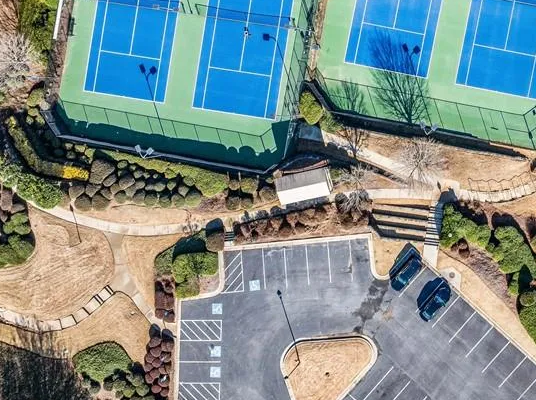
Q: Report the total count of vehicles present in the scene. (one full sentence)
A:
My tally gives 2 vehicles in this view.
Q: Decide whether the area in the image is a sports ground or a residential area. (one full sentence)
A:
This image shows a sports ground.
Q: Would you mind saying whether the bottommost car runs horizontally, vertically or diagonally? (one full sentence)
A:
The bottommost car runs diagonally in the image.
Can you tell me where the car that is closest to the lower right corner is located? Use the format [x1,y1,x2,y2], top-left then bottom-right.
[418,283,453,321]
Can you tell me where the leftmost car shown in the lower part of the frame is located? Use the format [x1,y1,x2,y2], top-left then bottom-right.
[389,253,425,291]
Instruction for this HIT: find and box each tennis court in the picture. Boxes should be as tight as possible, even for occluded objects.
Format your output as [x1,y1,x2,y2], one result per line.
[171,0,315,171]
[311,0,457,129]
[432,0,536,148]
[57,0,194,154]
